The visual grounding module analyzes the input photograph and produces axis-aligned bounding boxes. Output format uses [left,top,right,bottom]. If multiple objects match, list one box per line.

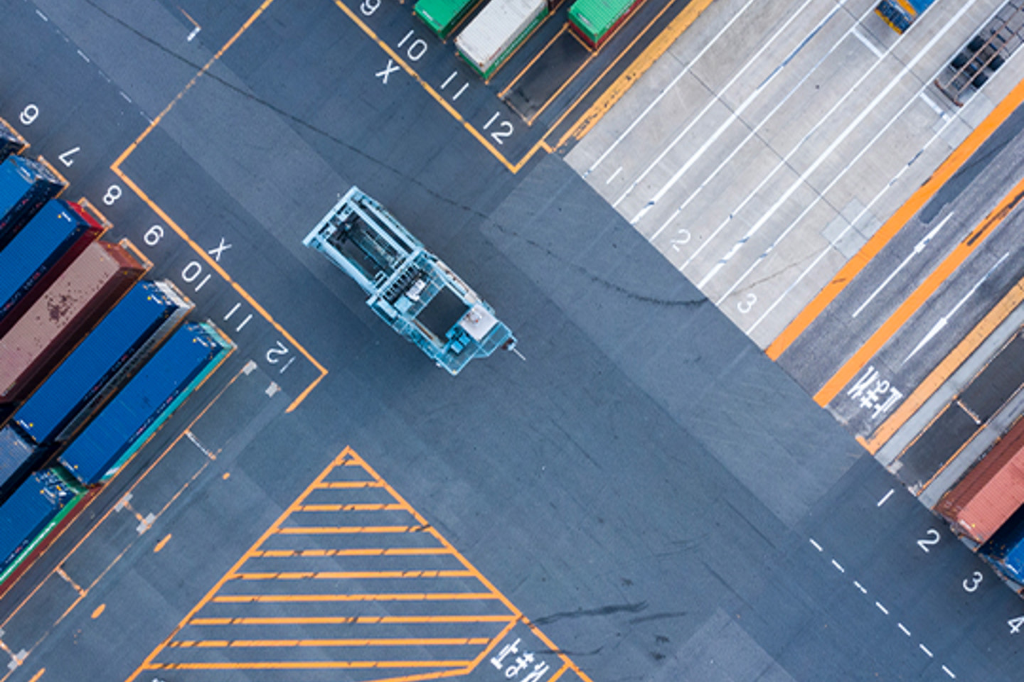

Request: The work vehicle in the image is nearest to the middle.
[302,187,526,376]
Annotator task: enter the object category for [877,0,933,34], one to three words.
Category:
truck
